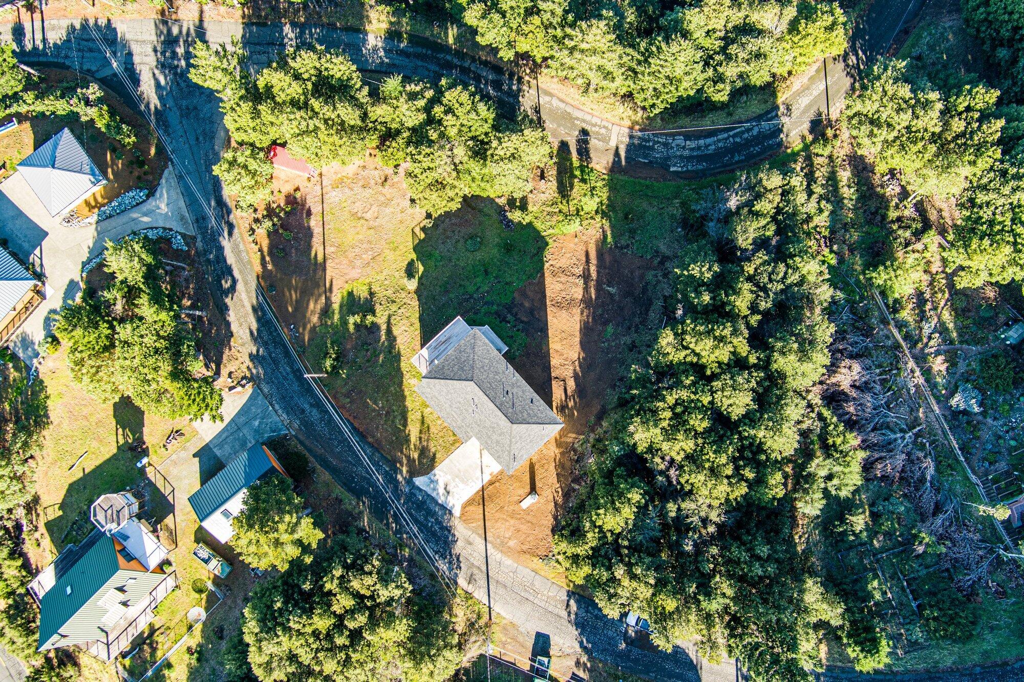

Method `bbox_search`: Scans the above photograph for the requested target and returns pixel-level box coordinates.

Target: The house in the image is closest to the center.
[404,311,565,474]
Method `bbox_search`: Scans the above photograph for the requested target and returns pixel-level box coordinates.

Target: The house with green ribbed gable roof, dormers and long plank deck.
[27,512,198,666]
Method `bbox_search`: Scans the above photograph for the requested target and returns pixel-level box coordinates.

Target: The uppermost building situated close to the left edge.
[15,128,114,218]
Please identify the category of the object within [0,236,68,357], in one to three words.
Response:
house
